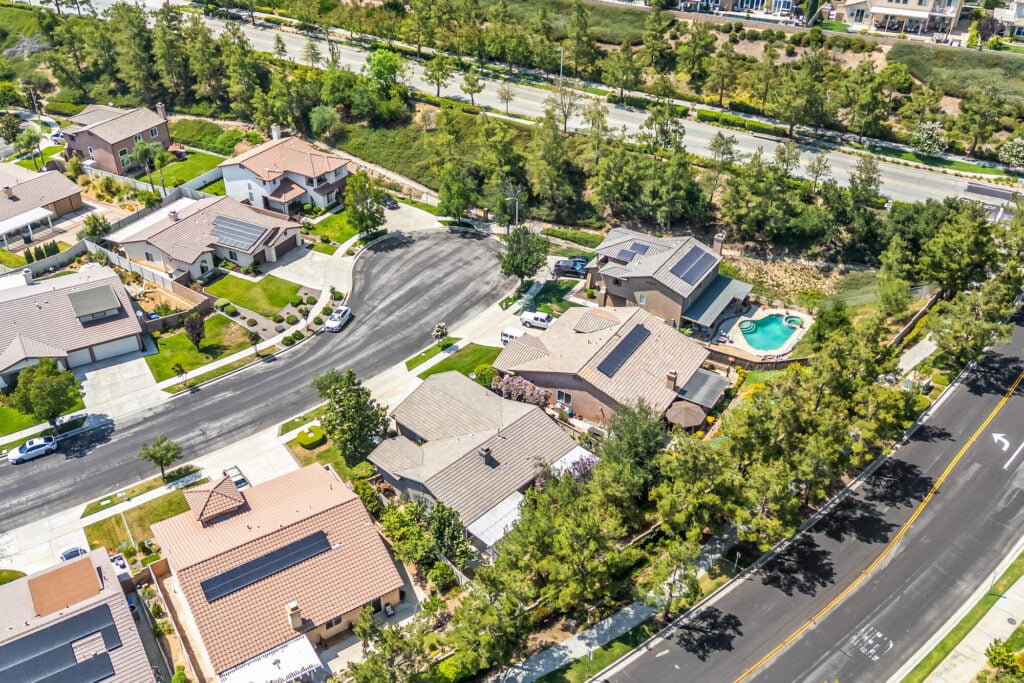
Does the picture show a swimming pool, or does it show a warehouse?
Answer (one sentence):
Looking from above, you can make out a swimming pool.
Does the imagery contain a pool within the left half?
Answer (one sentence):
No, within the left half there is no pool.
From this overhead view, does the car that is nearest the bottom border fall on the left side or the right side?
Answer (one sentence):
It is on the left.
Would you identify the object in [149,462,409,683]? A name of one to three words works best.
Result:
house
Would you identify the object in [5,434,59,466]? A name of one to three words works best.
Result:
car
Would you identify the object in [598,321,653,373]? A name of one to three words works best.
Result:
solar panel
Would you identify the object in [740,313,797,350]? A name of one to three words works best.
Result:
swimming pool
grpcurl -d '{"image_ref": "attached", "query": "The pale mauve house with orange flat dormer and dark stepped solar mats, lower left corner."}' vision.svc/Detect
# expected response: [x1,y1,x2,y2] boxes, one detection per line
[0,546,179,683]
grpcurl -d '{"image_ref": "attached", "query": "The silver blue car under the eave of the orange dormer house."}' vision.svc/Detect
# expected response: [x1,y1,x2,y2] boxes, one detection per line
[53,534,88,564]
